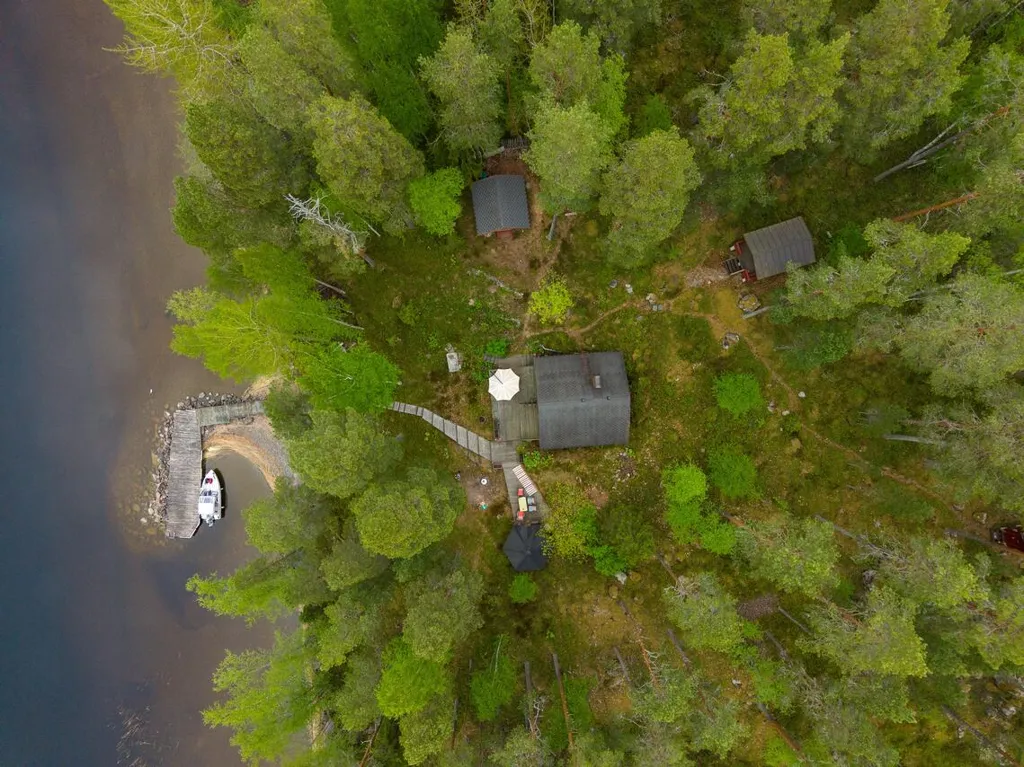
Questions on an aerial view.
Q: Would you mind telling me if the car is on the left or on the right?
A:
right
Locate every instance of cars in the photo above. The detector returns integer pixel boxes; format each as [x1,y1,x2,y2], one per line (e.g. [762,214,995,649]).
[995,527,1024,552]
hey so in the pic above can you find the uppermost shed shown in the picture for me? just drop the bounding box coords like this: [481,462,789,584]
[473,175,530,242]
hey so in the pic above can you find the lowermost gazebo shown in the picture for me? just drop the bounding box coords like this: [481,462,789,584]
[504,523,548,571]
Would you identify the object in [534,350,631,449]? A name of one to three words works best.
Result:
building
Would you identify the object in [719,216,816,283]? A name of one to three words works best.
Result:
shed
